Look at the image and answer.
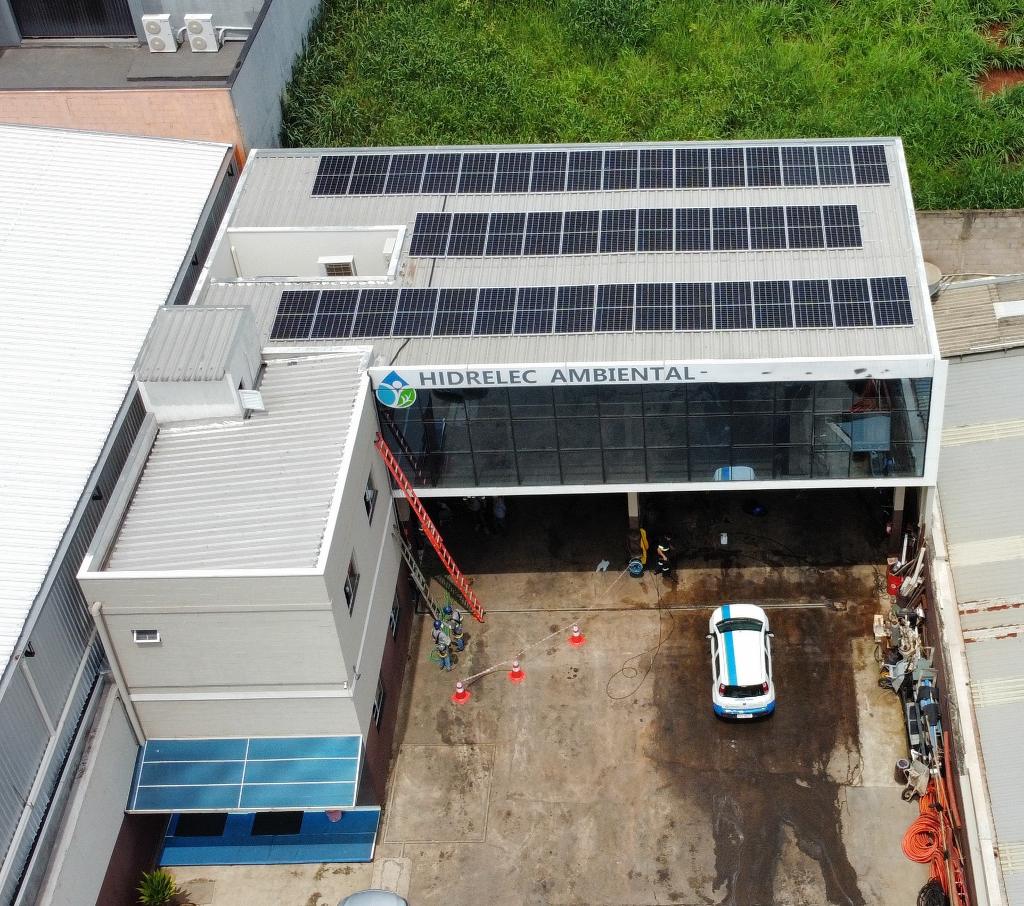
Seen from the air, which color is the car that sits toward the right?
white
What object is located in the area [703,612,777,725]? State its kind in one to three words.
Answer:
car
